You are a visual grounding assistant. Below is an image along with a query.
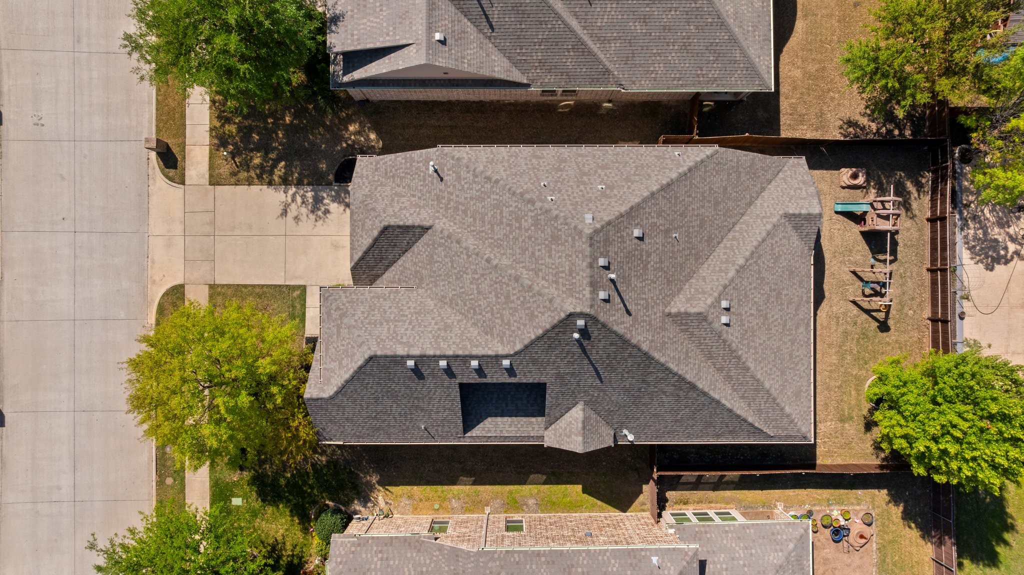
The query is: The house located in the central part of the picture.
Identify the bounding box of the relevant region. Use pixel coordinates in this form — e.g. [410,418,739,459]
[304,144,822,453]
